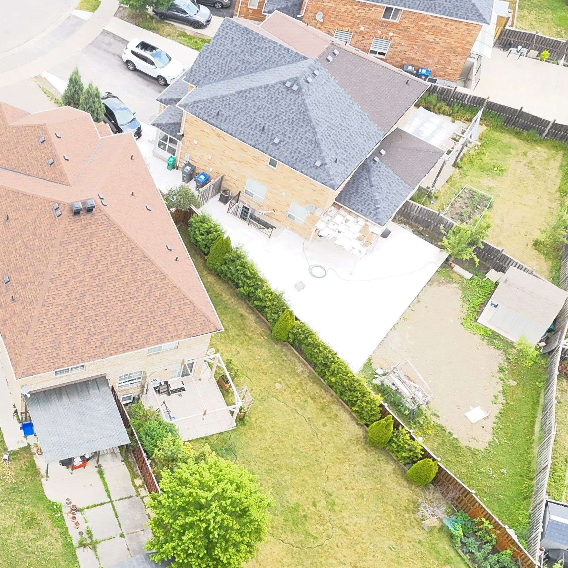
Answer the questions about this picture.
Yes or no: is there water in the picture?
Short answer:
No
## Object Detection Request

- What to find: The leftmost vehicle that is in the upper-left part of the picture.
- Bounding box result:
[97,85,149,135]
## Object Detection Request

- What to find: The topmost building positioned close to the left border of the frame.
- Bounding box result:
[0,102,225,422]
